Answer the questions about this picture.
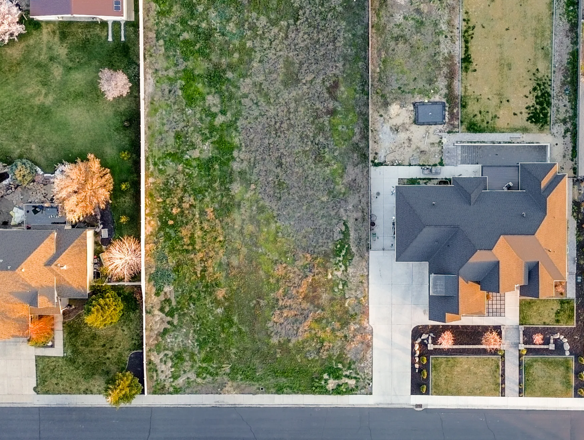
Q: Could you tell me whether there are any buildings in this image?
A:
Yes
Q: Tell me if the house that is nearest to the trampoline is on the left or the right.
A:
right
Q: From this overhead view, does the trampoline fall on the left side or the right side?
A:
right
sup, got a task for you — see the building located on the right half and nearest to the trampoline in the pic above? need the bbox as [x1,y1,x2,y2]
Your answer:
[395,162,567,323]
